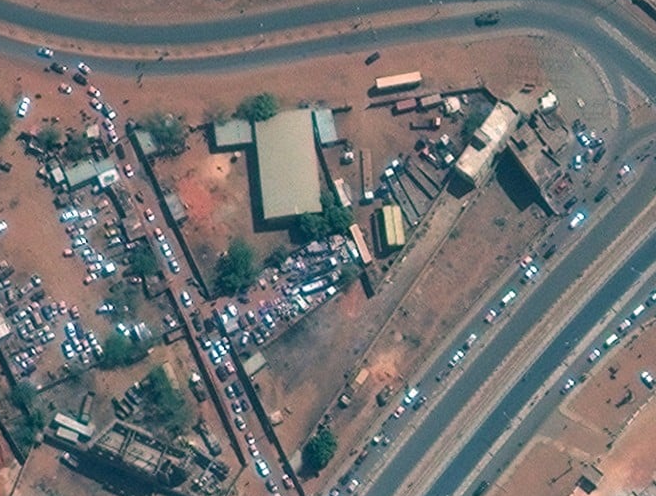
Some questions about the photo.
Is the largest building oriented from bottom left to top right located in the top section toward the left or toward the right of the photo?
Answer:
right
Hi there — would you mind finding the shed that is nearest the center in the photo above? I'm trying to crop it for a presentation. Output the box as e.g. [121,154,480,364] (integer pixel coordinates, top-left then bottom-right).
[349,223,371,264]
